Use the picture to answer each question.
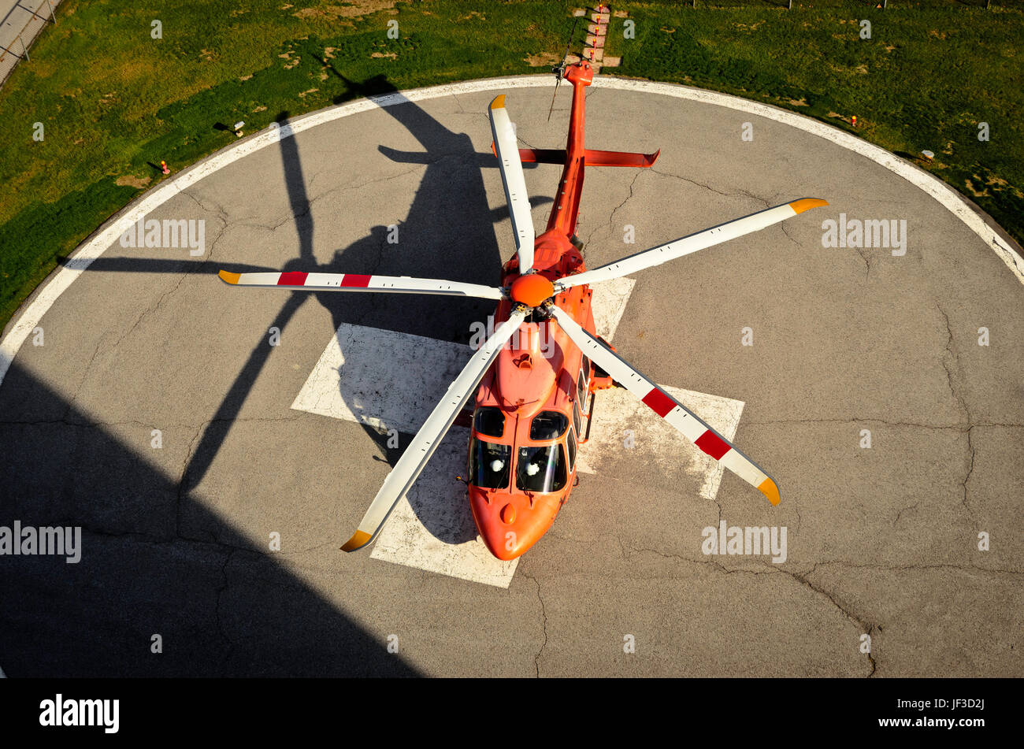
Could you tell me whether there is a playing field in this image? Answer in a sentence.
No, no playing field is visible in the scene.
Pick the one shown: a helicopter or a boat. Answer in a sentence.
It is a helicopter that can be seen here.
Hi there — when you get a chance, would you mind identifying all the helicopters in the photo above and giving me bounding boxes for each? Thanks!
[219,17,824,562]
